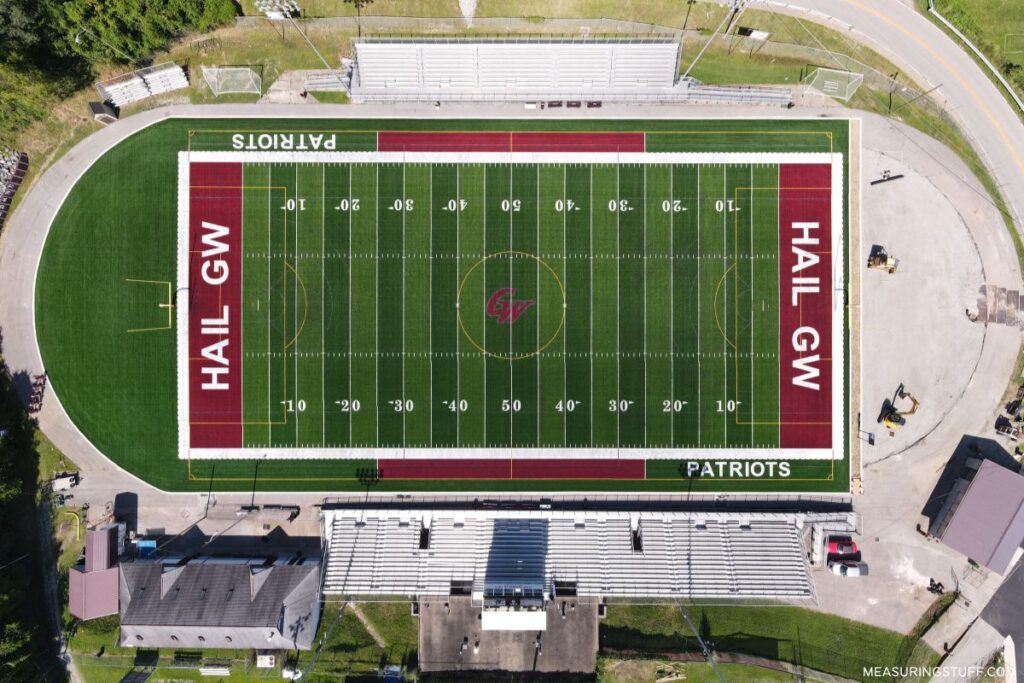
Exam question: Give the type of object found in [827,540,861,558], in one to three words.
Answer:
car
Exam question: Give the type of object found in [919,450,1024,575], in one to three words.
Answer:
building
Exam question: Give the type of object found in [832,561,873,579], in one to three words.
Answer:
vehicle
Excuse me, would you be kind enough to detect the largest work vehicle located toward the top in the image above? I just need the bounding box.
[865,255,909,272]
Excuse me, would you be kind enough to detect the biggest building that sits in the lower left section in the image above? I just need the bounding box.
[118,553,322,649]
